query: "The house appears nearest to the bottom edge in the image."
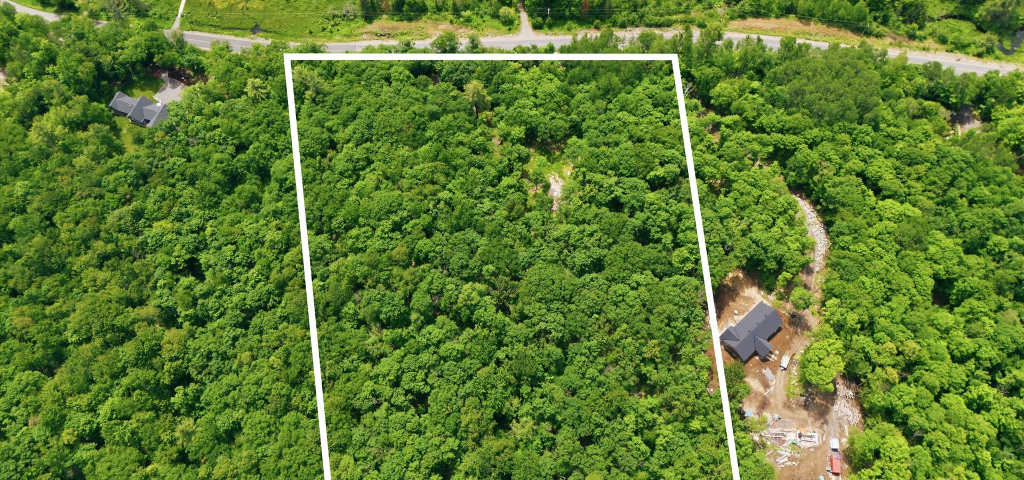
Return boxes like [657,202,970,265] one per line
[718,302,786,364]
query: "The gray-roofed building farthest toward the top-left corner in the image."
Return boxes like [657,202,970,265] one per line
[107,91,172,135]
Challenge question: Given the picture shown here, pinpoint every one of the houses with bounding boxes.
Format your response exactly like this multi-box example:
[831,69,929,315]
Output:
[107,91,172,135]
[718,302,786,364]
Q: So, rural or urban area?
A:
rural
